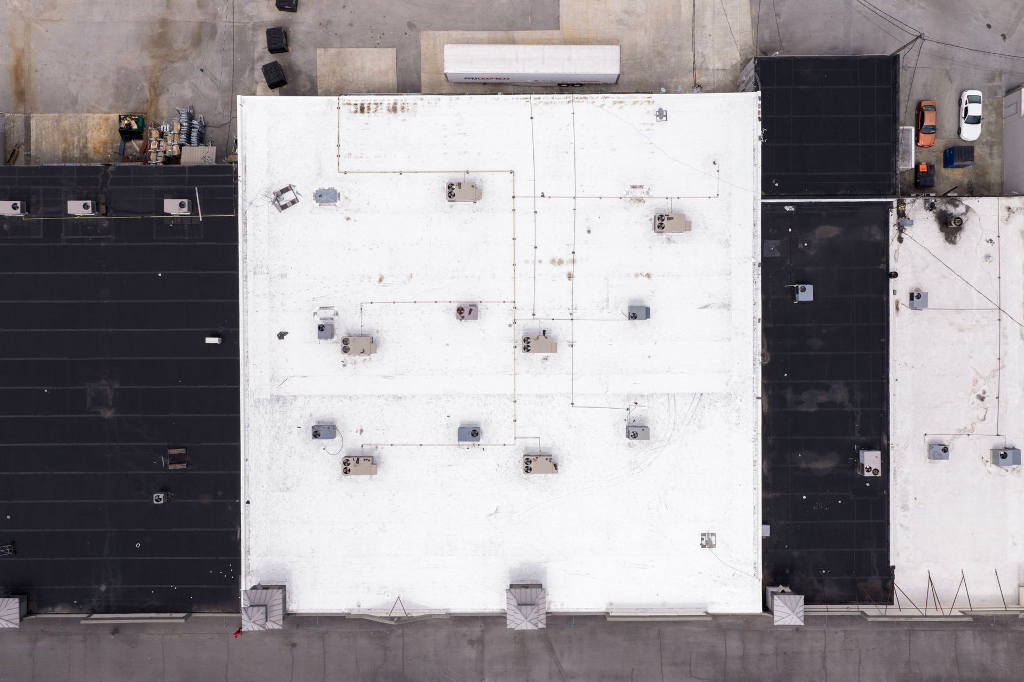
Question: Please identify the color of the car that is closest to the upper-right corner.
white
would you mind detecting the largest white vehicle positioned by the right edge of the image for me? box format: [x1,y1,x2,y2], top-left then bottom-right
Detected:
[955,91,984,142]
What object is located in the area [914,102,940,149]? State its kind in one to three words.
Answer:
car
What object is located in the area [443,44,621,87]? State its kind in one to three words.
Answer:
trailer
